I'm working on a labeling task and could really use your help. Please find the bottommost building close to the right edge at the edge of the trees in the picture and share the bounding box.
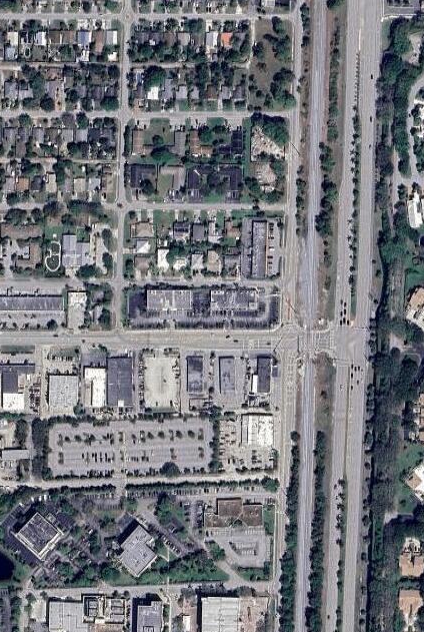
[400,587,423,610]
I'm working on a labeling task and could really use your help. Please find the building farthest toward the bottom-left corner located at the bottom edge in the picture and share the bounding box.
[48,600,87,632]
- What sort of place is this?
residential area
